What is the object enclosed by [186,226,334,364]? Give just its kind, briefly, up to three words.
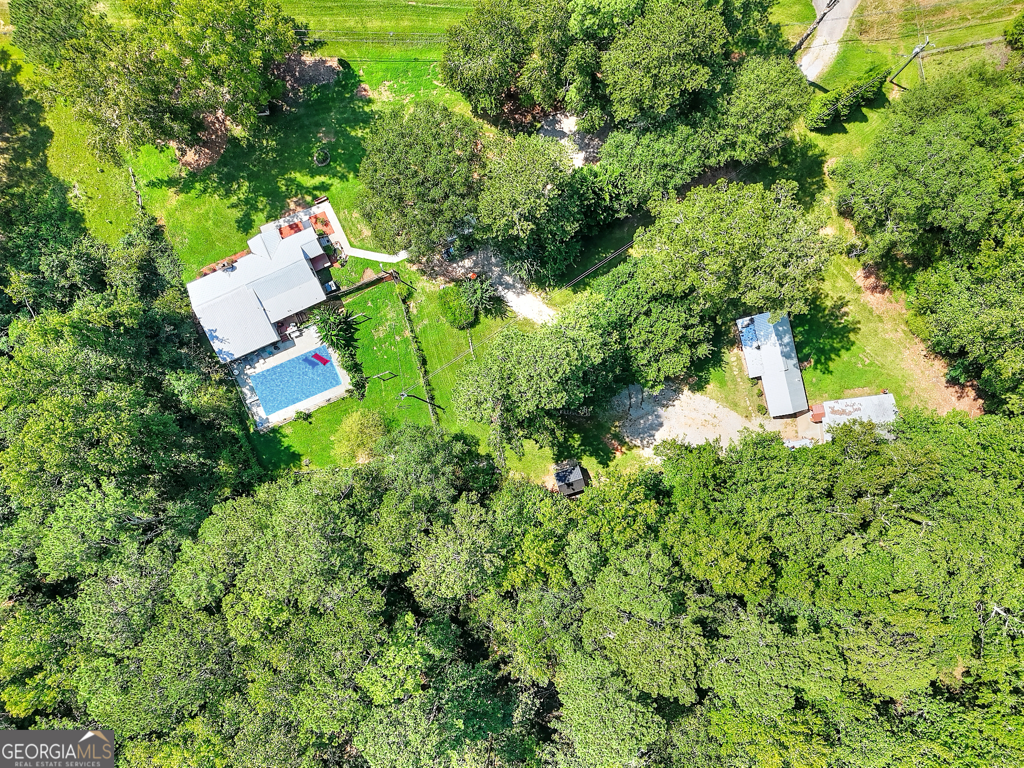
building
